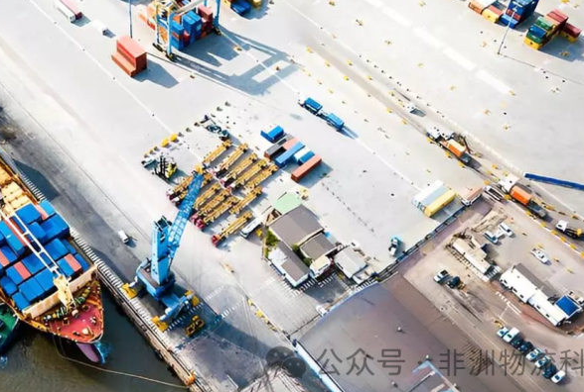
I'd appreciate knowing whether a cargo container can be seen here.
Yes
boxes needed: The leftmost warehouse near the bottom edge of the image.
[295,272,530,392]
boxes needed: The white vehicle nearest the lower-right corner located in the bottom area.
[547,366,566,381]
